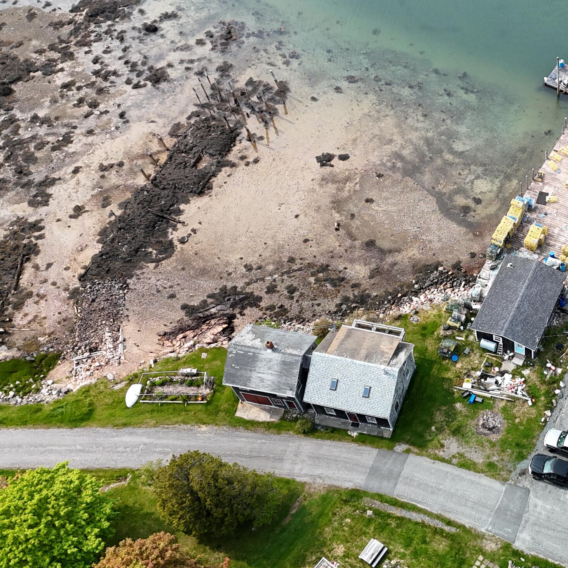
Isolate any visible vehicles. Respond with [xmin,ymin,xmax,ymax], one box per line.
[540,430,568,458]
[528,456,568,488]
